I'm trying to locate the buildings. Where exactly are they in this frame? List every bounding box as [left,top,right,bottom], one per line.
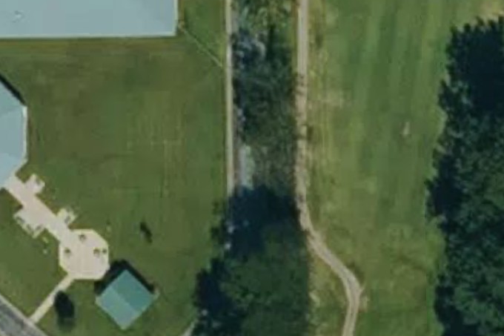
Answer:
[96,269,156,329]
[0,0,176,36]
[0,79,27,189]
